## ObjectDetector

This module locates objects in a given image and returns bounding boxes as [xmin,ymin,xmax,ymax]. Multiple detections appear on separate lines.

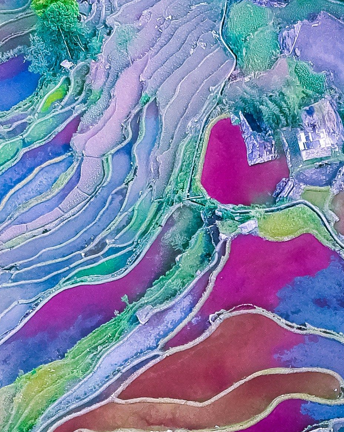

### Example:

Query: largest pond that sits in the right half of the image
[203,119,288,205]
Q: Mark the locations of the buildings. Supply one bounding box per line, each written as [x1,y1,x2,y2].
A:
[300,101,344,167]
[231,104,277,171]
